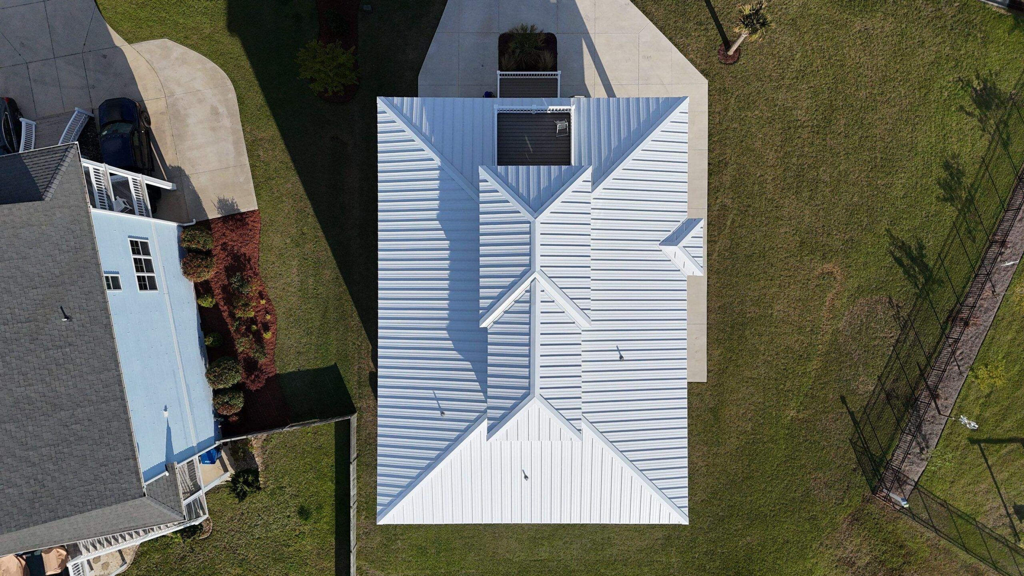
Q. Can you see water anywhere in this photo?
No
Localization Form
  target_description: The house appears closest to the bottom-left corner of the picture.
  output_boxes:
[0,93,230,576]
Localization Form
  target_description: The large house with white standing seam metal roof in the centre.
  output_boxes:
[377,70,703,524]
